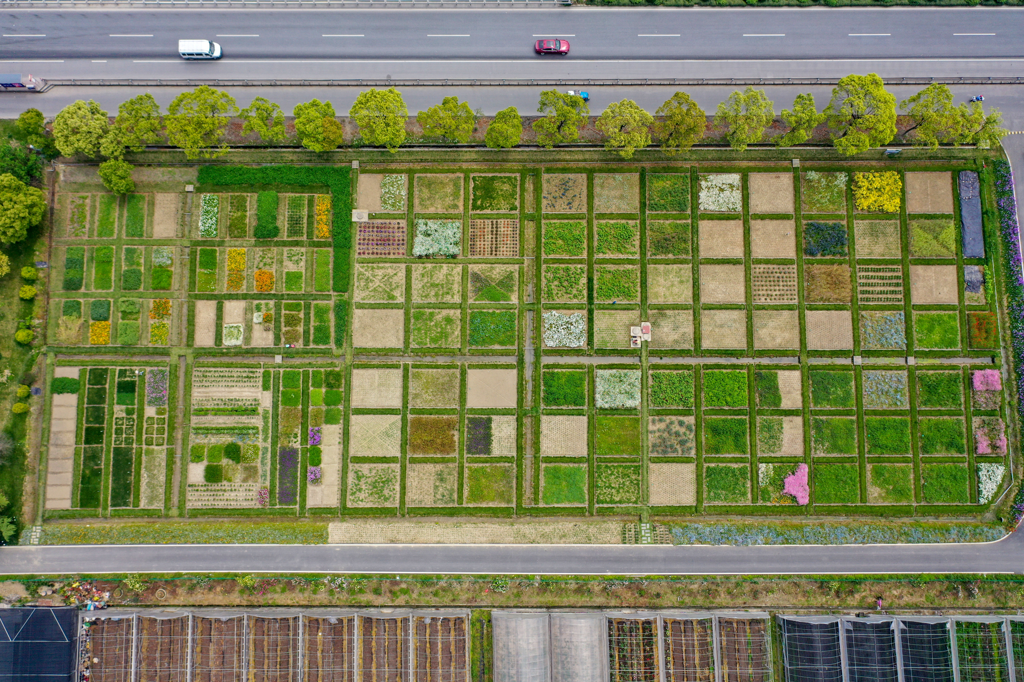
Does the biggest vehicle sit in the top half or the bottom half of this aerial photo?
top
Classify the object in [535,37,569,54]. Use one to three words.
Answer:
car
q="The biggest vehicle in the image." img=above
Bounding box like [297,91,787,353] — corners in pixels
[176,41,221,61]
